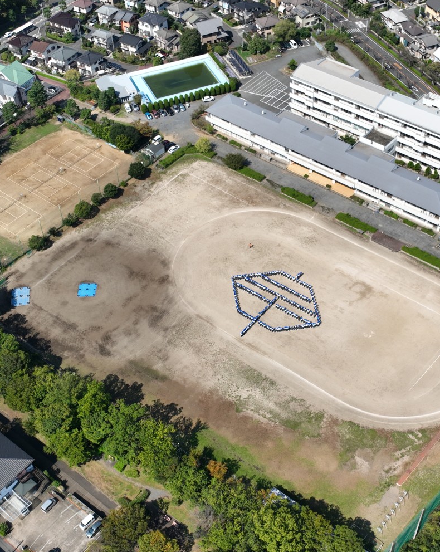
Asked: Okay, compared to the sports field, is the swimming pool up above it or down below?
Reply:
above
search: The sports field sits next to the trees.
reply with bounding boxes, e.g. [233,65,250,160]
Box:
[0,154,440,552]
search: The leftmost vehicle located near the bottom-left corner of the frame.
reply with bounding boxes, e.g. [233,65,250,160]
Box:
[15,503,34,523]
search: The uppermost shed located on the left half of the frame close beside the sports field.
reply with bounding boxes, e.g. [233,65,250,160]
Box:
[143,138,172,161]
